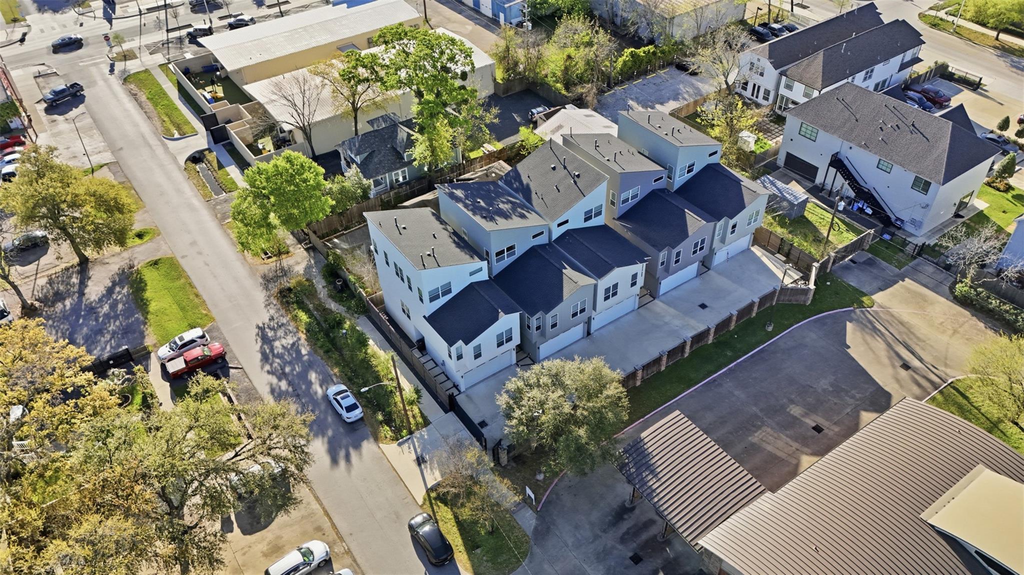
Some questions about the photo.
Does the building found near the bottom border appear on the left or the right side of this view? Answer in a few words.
right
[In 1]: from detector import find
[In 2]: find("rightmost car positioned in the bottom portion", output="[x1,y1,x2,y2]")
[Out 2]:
[406,507,458,569]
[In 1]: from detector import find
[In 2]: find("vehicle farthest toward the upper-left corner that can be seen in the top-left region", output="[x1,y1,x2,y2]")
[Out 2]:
[52,34,82,48]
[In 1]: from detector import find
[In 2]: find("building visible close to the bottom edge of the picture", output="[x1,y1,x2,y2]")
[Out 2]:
[697,396,1024,575]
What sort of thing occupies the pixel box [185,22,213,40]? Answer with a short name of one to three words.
car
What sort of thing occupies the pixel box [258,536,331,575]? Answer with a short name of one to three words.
car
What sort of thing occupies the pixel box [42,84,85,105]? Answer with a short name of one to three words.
truck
